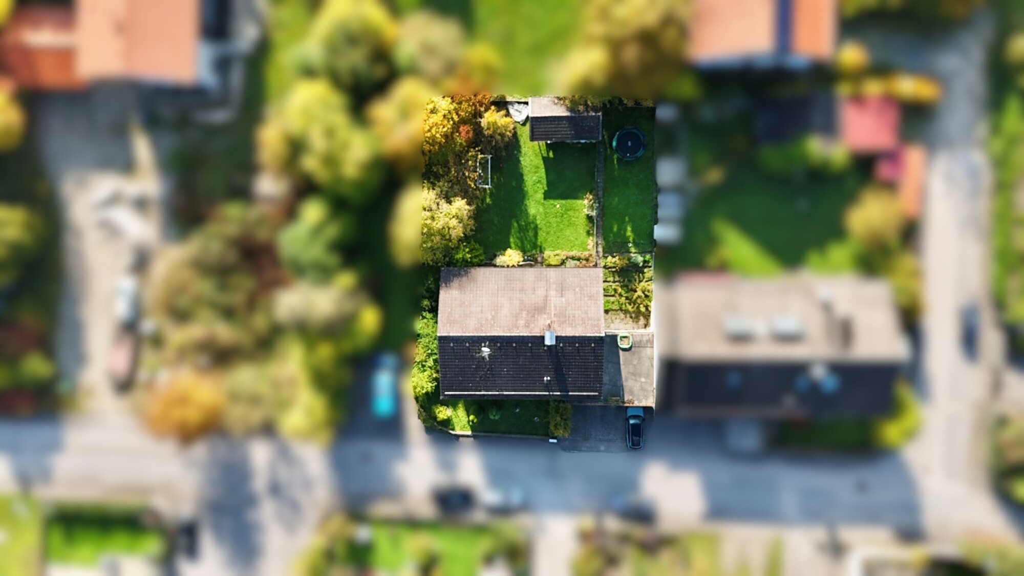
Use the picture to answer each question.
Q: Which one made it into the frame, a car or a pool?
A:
car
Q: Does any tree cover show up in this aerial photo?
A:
Yes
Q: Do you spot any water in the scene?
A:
No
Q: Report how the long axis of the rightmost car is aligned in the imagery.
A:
up and down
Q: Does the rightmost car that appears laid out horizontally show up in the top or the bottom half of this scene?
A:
bottom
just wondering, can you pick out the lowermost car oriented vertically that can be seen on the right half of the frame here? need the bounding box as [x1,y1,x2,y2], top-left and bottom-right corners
[625,408,646,450]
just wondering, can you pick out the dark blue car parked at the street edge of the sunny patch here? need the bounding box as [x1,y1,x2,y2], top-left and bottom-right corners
[615,496,658,517]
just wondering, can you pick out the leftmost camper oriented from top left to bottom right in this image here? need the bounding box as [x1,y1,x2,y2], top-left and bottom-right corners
[96,194,153,241]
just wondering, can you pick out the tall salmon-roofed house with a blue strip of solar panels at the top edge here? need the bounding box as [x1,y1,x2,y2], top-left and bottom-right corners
[681,0,841,75]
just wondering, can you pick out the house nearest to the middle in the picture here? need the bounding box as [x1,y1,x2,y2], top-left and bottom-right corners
[438,266,605,400]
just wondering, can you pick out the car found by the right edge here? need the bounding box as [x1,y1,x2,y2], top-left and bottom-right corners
[957,308,980,352]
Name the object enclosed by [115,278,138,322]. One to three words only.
car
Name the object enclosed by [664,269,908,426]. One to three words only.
house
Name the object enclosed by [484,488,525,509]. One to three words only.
car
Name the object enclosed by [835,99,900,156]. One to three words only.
shed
